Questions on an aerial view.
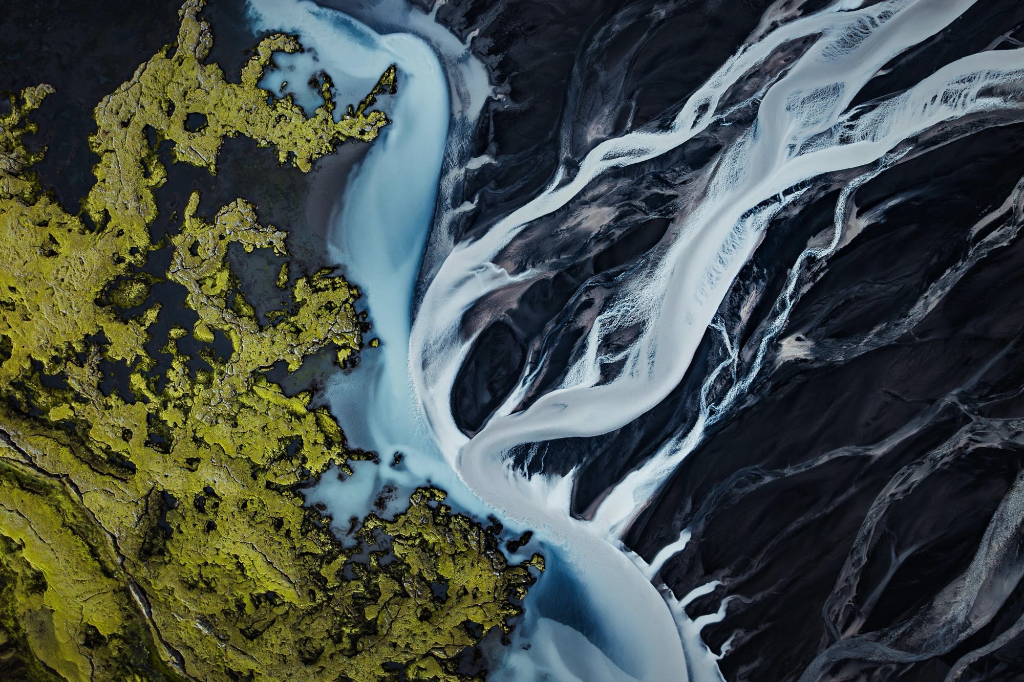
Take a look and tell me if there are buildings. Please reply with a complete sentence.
No, the frame has no building in it.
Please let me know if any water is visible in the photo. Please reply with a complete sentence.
Yes, there is water in the image.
